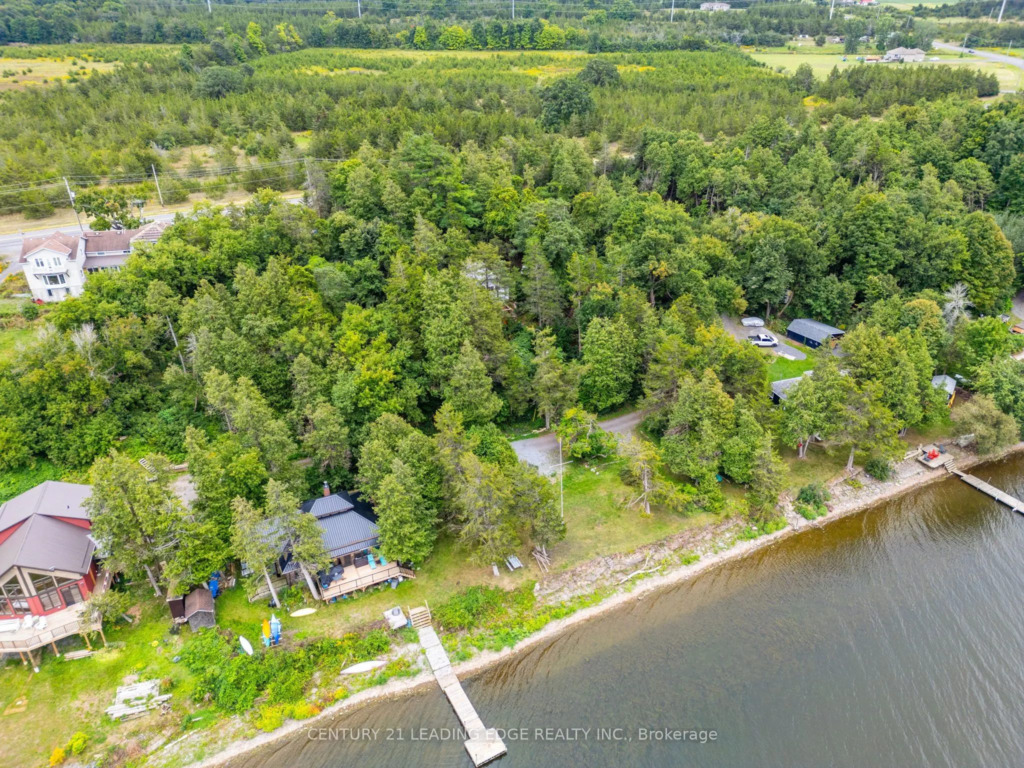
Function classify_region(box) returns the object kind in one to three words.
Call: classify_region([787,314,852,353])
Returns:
building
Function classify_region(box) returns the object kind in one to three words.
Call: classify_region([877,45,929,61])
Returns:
house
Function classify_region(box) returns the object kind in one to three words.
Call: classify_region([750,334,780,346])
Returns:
vehicle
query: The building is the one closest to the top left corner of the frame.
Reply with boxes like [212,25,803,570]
[19,221,173,302]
